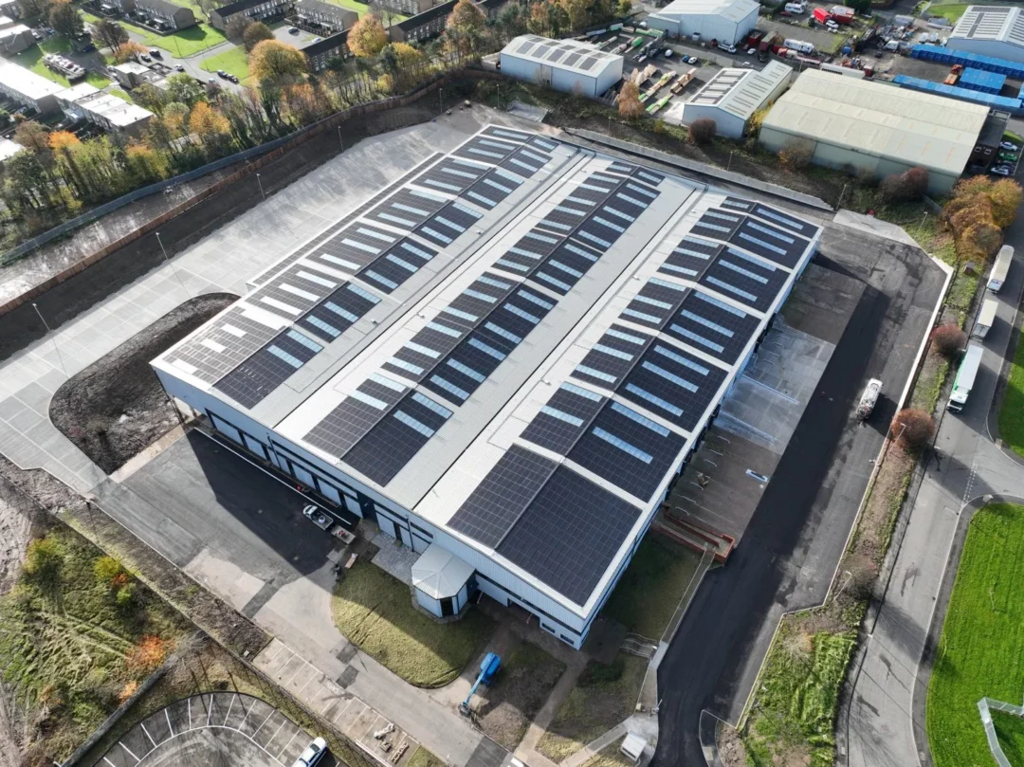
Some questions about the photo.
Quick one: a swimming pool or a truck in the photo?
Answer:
truck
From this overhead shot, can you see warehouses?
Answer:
Yes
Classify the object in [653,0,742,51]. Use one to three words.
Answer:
shed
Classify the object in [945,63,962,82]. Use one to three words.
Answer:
vehicle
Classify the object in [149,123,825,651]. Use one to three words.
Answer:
warehouse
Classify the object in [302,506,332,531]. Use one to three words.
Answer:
truck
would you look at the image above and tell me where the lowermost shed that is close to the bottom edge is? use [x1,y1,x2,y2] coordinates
[616,719,651,757]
